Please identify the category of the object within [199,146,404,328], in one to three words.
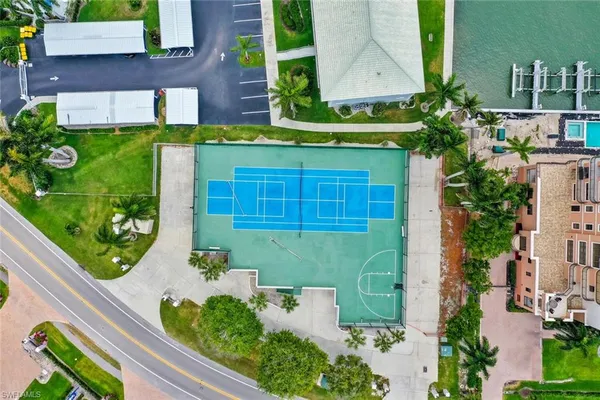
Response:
tennis court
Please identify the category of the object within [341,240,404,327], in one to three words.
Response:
basketball court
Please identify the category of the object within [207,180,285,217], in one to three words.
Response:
sports court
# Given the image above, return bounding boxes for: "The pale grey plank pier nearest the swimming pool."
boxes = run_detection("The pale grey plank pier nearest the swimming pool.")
[571,61,589,113]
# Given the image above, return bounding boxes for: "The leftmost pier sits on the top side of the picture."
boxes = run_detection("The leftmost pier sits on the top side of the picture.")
[530,60,546,113]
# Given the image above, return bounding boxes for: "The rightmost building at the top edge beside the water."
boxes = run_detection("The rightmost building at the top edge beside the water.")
[312,0,425,113]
